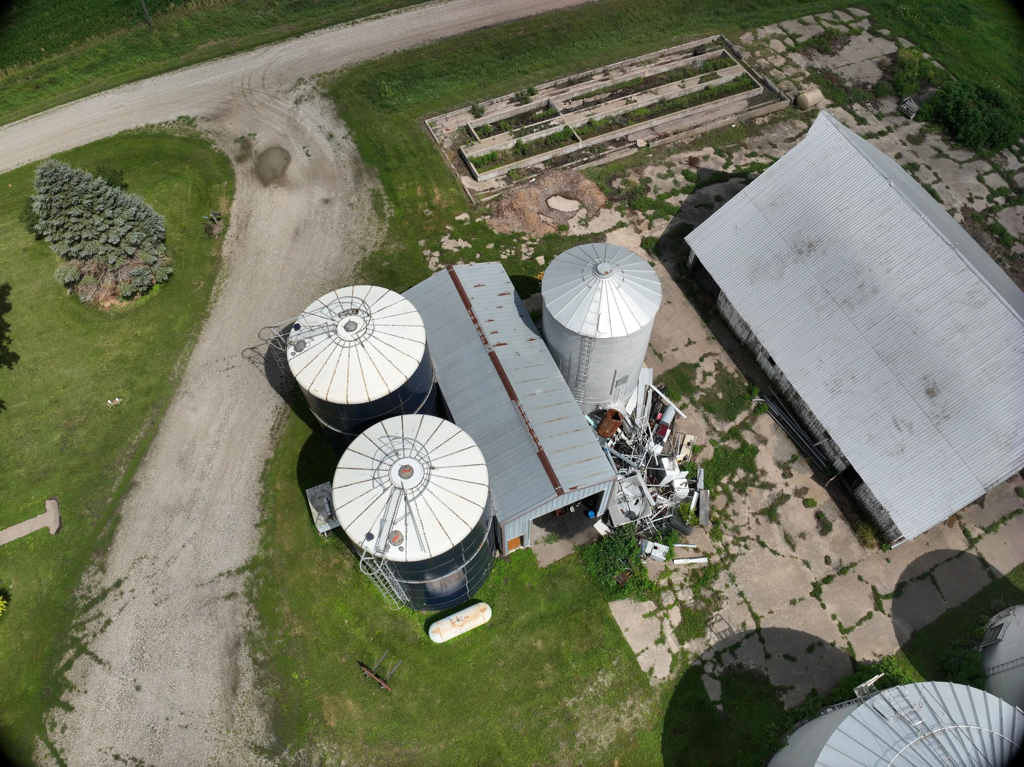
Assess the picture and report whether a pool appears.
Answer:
No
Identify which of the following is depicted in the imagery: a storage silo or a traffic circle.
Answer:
storage silo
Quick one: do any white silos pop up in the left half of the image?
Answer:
Yes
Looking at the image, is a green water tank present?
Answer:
No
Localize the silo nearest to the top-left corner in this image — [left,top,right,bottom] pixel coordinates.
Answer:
[255,286,442,462]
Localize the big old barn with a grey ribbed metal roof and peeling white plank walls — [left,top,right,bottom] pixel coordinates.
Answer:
[683,99,1024,551]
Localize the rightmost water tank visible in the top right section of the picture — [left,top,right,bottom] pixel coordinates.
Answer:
[792,84,825,109]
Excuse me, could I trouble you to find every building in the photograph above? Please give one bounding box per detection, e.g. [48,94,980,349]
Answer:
[683,99,1024,551]
[399,259,621,559]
